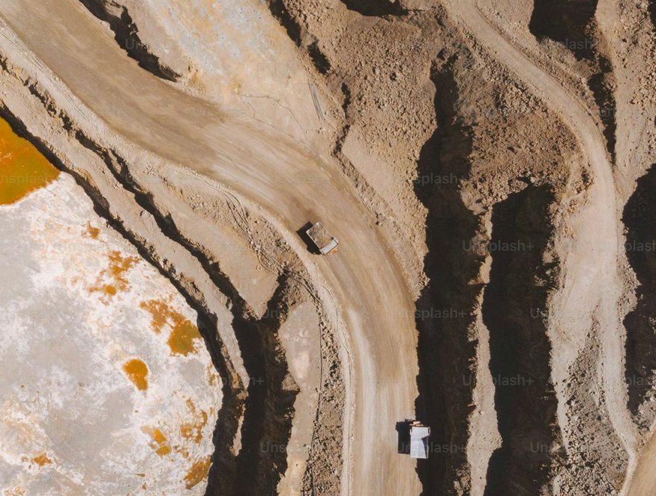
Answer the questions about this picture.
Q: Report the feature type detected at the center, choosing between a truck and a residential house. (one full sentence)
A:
The feature located at the center is a truck.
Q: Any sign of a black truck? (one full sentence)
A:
No, no black truck is visible in the scene.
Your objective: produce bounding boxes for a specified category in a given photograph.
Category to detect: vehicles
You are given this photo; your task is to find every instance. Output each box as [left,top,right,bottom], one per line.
[307,221,339,256]
[404,421,426,456]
